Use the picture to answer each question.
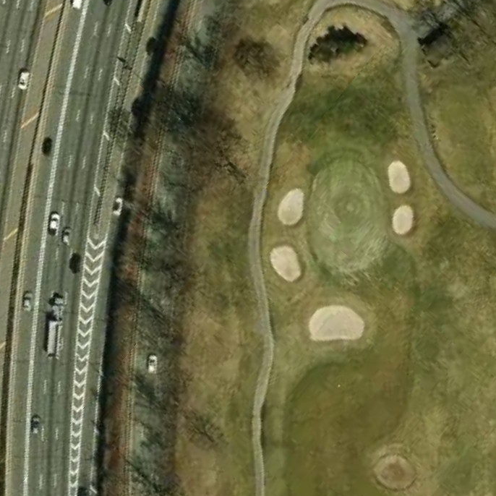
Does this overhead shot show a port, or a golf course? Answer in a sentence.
This image shows a golf course.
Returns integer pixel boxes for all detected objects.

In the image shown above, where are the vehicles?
[113,195,122,215]
[47,294,63,359]
[49,214,59,232]
[72,0,81,7]
[78,486,86,496]
[18,69,28,88]
[147,36,157,55]
[61,228,70,245]
[23,291,32,310]
[32,415,40,433]
[147,354,156,372]
[42,137,51,155]
[132,98,142,118]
